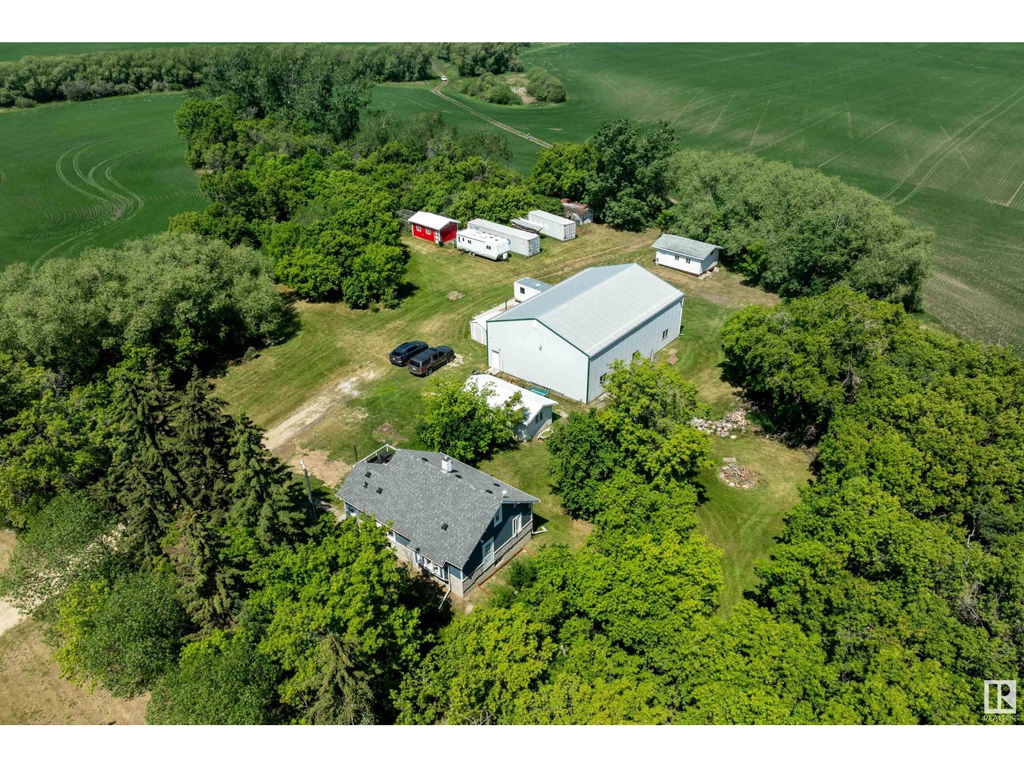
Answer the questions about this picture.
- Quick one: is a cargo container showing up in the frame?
Yes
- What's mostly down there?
trees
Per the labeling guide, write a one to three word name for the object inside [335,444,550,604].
house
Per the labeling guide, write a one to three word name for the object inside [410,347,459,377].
car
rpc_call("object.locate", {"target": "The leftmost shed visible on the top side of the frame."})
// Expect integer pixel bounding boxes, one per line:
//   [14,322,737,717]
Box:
[408,212,460,244]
